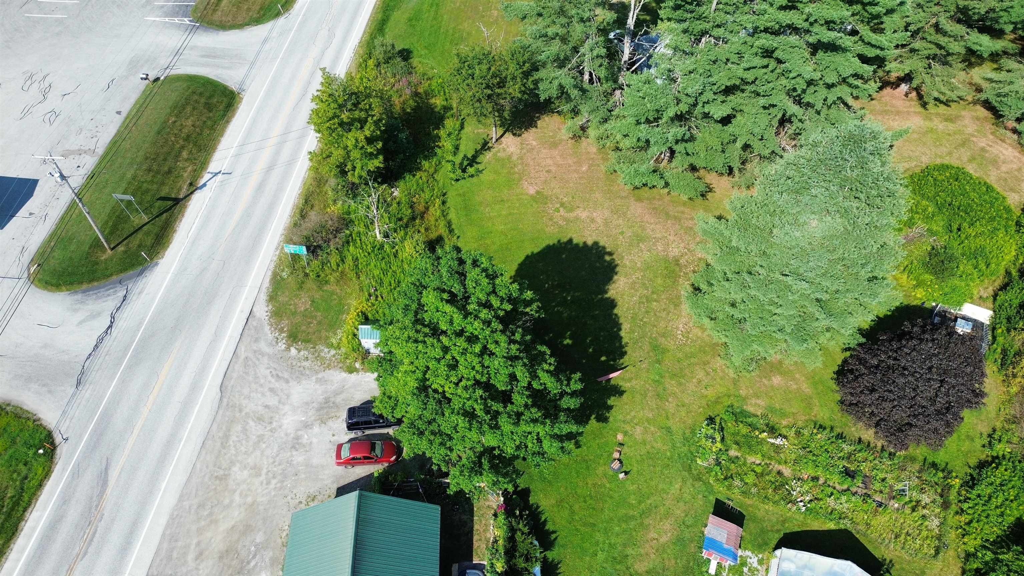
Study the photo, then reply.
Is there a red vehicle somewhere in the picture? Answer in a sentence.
Yes, there is a red vehicle in the image.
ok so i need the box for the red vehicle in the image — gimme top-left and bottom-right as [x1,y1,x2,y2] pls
[334,438,399,470]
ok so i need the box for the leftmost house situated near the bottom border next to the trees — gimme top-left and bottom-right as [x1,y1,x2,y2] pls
[282,485,441,576]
